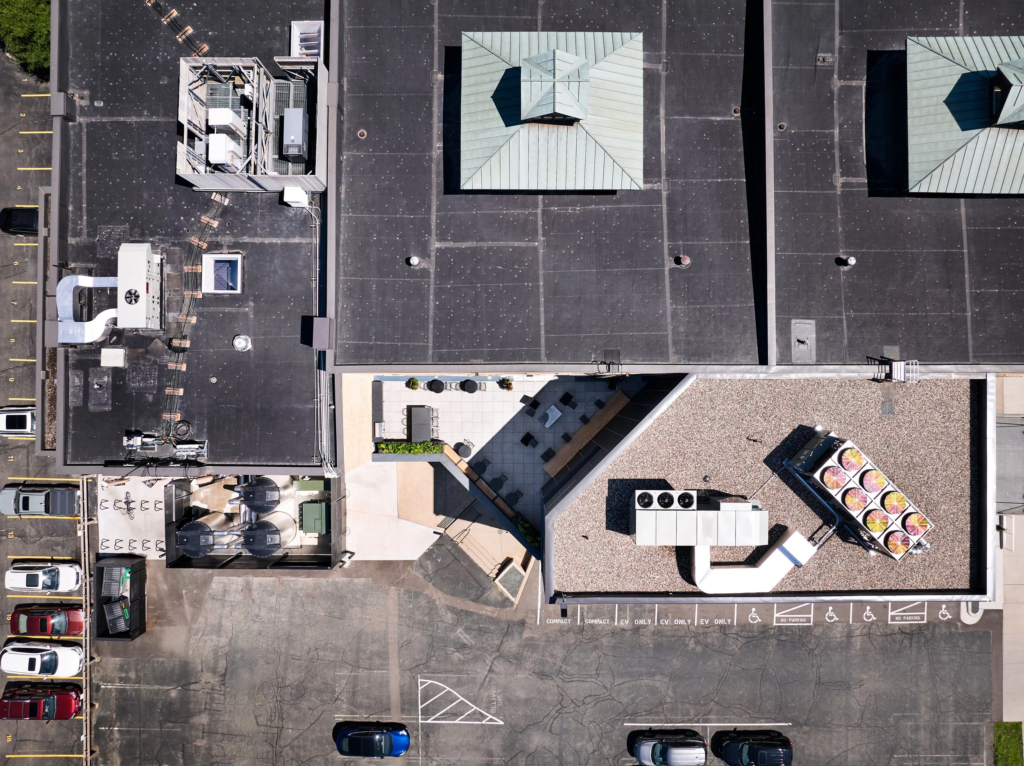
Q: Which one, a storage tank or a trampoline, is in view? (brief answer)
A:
storage tank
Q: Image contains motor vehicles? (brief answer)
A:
Yes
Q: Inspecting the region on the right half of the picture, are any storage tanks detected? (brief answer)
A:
No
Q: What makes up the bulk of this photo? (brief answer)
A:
buildings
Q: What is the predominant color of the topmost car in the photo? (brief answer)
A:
black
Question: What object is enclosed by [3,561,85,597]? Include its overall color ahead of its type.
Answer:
white car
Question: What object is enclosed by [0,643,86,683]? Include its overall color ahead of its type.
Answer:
white car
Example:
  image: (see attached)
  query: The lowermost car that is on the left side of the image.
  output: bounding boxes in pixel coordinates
[337,720,413,762]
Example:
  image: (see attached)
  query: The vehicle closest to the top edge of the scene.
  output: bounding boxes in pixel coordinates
[0,203,38,238]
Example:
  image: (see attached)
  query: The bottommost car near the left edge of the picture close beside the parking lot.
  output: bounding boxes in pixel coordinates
[0,688,83,729]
